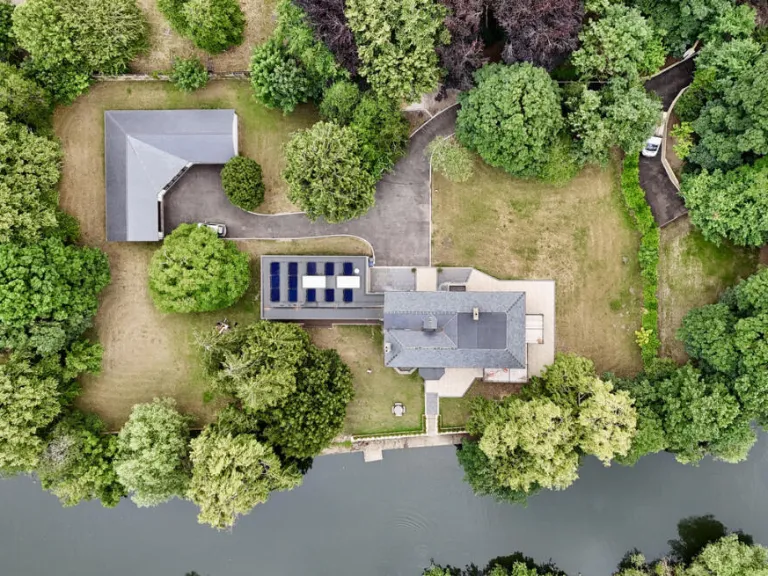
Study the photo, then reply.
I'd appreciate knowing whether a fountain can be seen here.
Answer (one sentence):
No, the scene contains no fountain.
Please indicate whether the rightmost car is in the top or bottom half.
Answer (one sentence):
Seen from above, the rightmost car lies in the top half of the view.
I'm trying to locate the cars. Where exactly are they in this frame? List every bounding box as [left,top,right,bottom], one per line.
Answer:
[198,221,227,236]
[640,133,663,161]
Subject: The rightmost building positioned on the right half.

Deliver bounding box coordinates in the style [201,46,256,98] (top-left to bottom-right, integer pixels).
[384,284,543,382]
